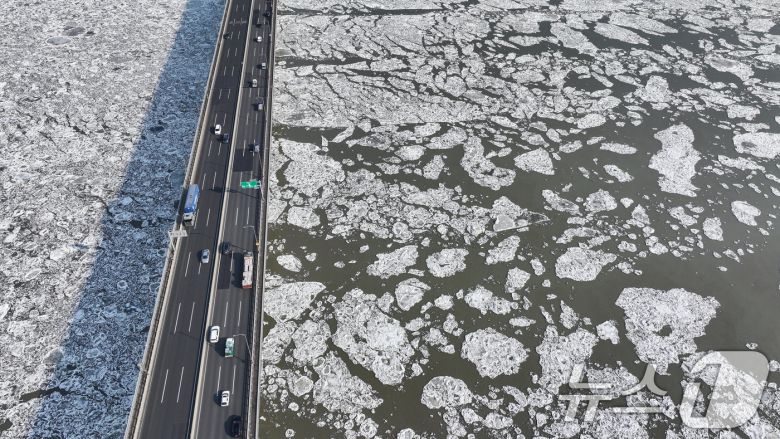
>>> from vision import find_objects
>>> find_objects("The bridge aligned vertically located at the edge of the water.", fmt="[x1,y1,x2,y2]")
[122,0,277,439]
